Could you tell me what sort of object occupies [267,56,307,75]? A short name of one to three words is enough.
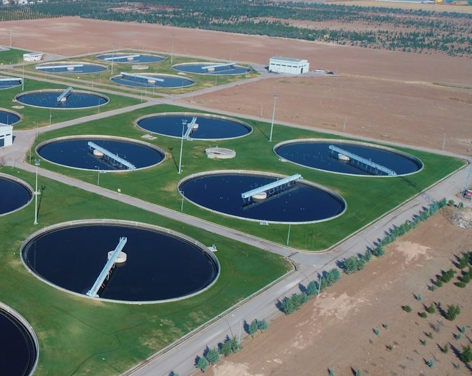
building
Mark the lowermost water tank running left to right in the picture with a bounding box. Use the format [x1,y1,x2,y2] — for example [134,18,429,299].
[21,221,220,308]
